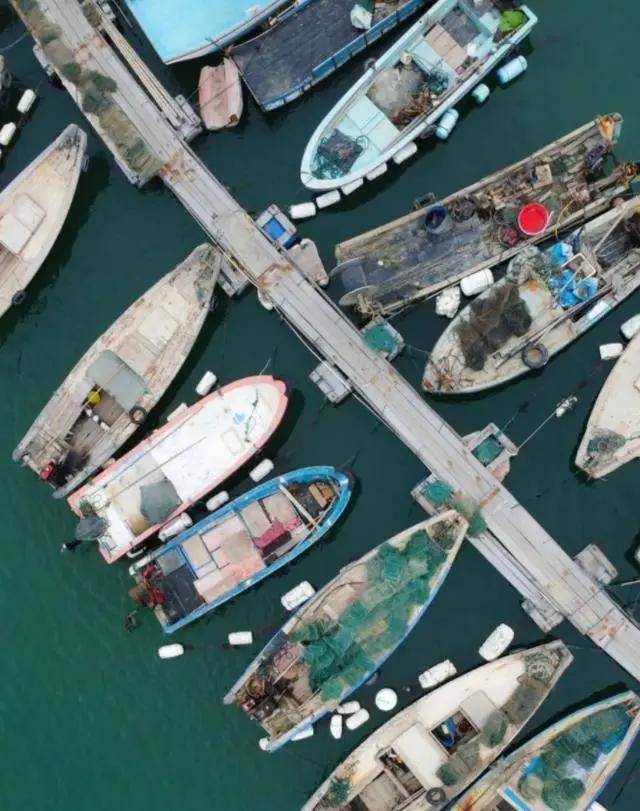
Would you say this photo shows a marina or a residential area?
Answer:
marina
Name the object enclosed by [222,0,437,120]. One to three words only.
boat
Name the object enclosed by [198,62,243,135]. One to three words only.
boat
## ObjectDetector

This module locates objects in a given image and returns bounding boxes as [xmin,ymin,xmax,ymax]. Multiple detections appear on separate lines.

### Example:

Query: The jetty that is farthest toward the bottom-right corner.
[520,595,562,631]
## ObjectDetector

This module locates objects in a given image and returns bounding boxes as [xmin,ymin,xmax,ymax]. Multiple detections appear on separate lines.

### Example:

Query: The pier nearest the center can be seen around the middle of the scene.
[309,363,352,404]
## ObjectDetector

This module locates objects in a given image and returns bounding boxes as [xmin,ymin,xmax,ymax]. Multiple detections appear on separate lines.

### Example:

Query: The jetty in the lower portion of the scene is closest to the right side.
[572,543,616,584]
